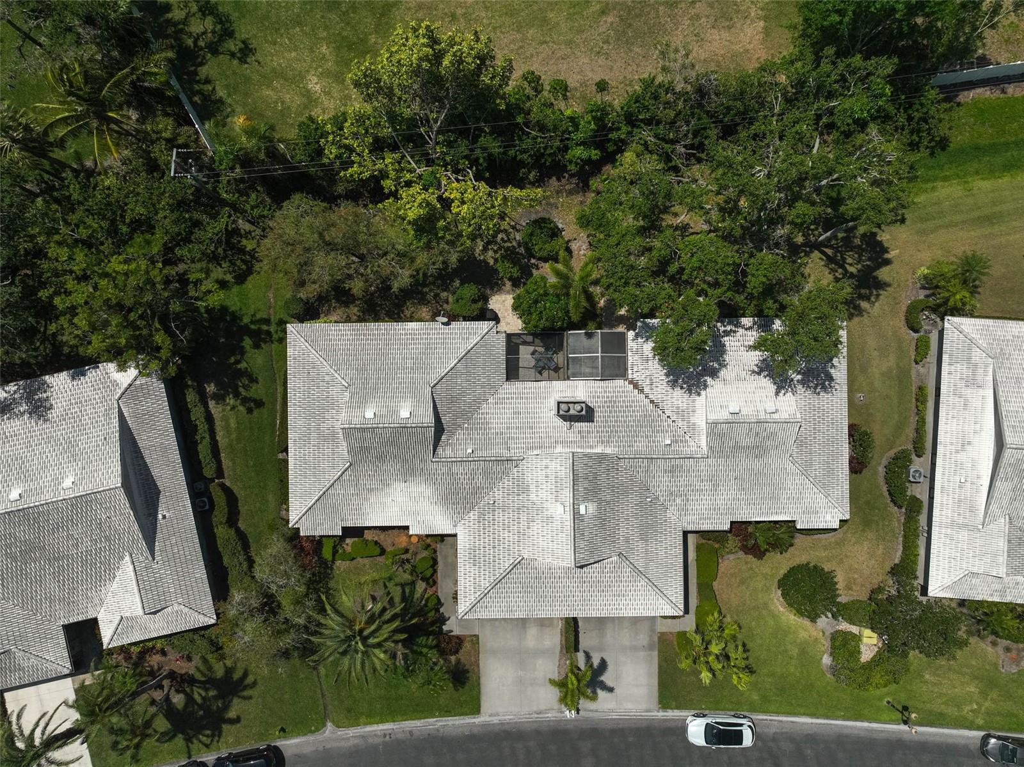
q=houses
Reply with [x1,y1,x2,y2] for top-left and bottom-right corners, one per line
[286,317,850,619]
[917,316,1024,604]
[0,356,228,690]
